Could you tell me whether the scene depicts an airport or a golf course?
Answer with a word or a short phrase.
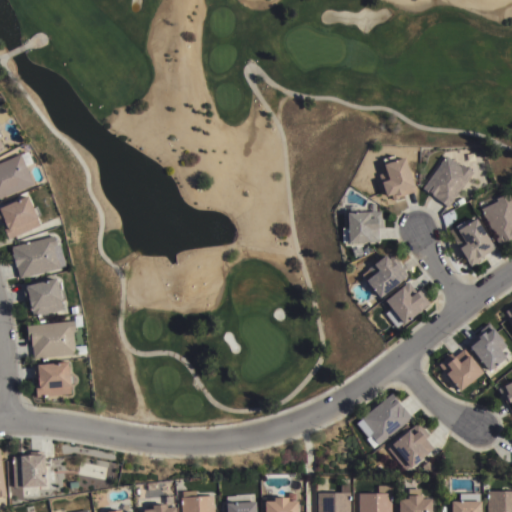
golf course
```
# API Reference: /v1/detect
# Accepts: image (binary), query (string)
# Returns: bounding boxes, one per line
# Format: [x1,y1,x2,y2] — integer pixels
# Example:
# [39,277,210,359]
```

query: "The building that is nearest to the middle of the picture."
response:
[348,212,382,246]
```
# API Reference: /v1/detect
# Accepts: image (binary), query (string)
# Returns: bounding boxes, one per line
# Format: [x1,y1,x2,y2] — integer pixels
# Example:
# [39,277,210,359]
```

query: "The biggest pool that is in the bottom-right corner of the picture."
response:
[452,479,480,492]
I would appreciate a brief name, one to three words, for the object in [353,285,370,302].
swimming pool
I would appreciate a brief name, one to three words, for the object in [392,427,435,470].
house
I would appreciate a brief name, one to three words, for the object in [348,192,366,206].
swimming pool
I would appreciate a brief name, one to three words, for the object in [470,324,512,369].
house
